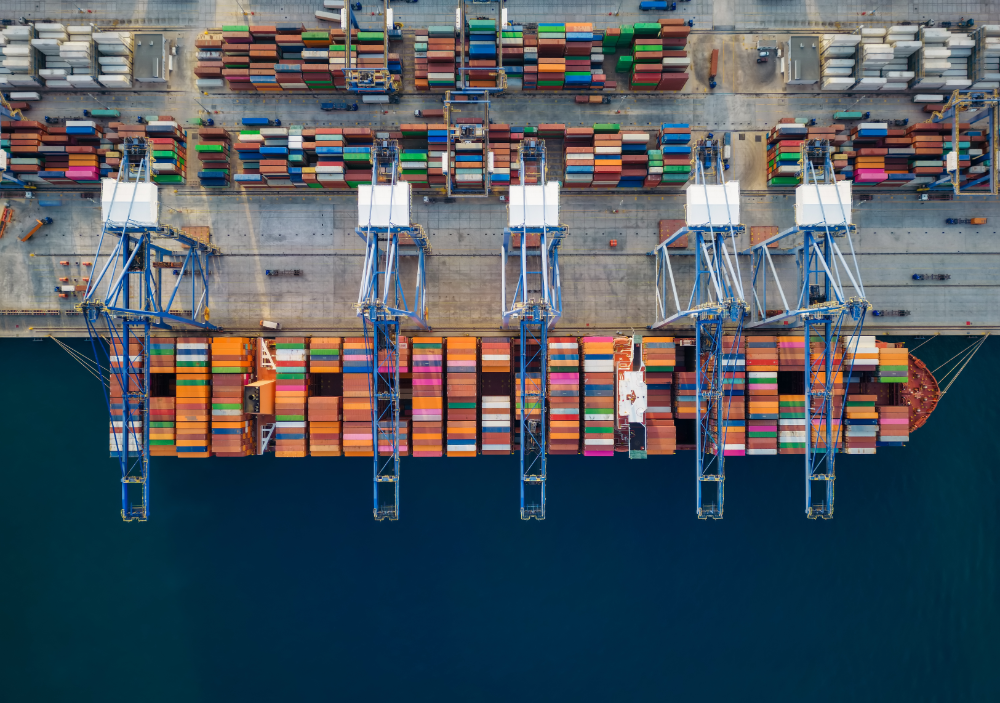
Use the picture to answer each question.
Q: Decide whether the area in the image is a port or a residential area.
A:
port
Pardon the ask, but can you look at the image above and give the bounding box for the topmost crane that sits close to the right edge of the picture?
[924,90,1000,197]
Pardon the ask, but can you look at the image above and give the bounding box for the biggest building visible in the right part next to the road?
[787,36,819,84]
